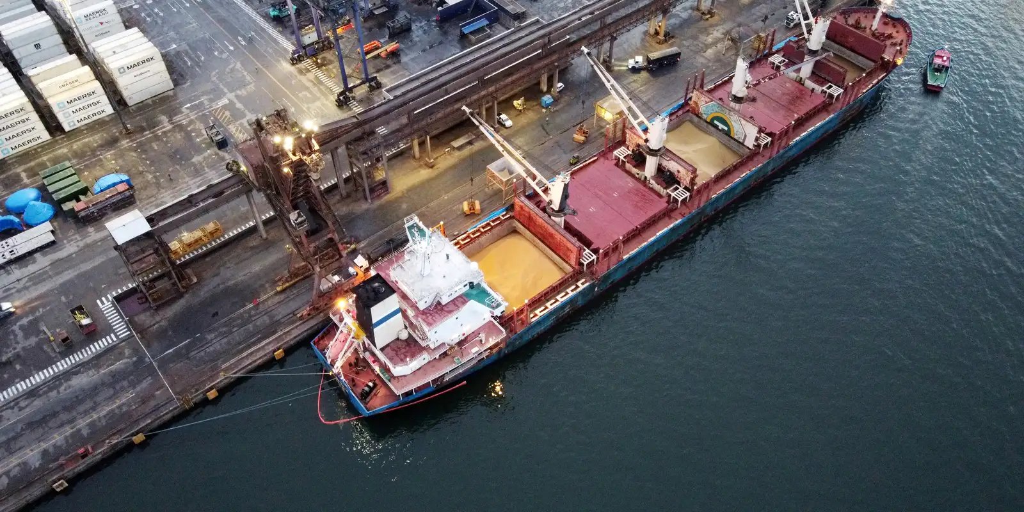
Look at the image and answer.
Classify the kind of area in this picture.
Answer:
port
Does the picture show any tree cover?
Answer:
No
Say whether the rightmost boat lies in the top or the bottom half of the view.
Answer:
top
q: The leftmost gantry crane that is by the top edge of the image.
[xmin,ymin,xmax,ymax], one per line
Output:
[285,0,380,104]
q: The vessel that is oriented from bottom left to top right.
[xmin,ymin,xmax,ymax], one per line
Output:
[311,0,912,419]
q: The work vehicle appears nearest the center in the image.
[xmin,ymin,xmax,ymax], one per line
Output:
[568,155,581,167]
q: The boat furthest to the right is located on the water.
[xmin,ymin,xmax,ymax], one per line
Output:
[926,48,952,93]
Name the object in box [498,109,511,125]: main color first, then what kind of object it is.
white vehicle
